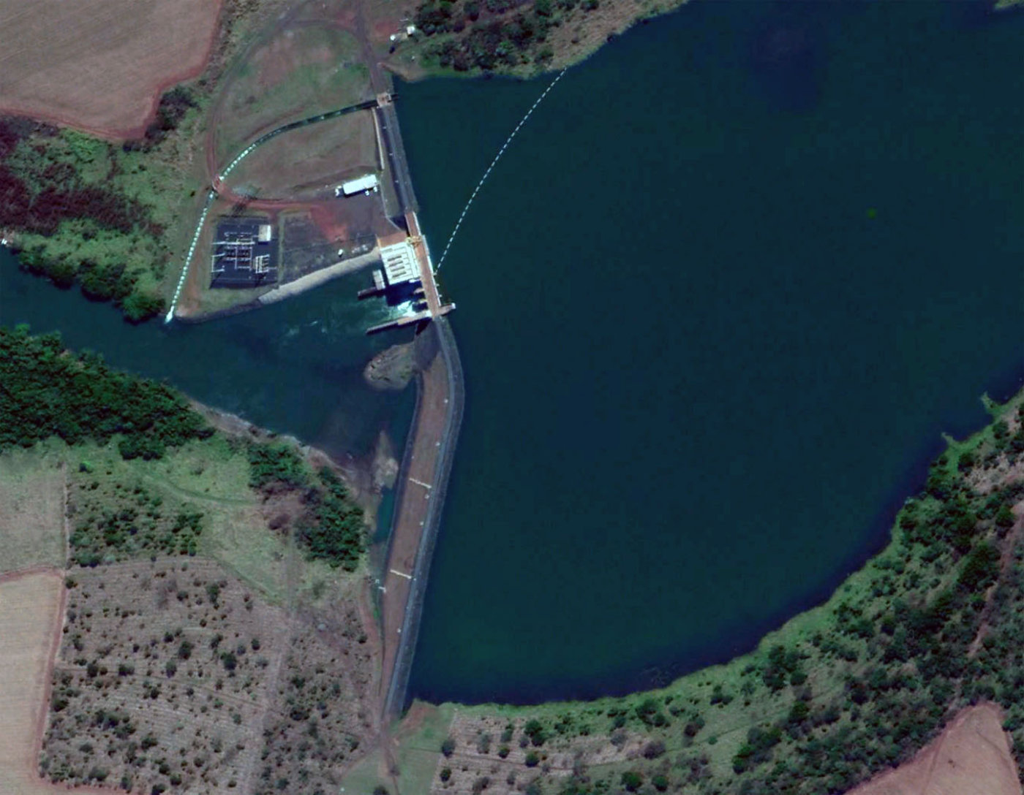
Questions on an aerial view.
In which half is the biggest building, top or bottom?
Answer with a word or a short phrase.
top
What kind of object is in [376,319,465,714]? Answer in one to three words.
dam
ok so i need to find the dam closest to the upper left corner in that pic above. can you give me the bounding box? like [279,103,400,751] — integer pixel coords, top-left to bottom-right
[376,73,418,213]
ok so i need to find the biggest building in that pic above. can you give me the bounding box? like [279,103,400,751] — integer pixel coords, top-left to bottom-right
[376,233,423,284]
